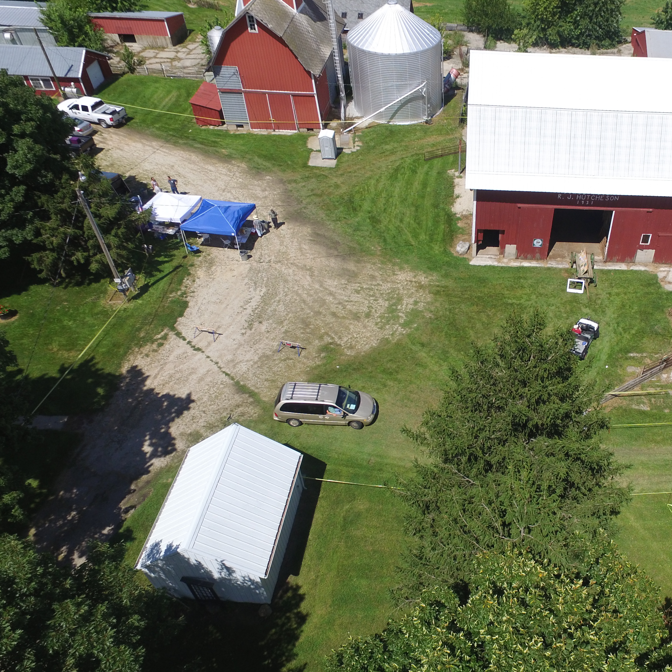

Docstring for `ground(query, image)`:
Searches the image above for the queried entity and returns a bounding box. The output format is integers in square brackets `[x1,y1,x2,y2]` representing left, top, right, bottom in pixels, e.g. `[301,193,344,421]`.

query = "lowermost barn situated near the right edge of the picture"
[466,50,672,263]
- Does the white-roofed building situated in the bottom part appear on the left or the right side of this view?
left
